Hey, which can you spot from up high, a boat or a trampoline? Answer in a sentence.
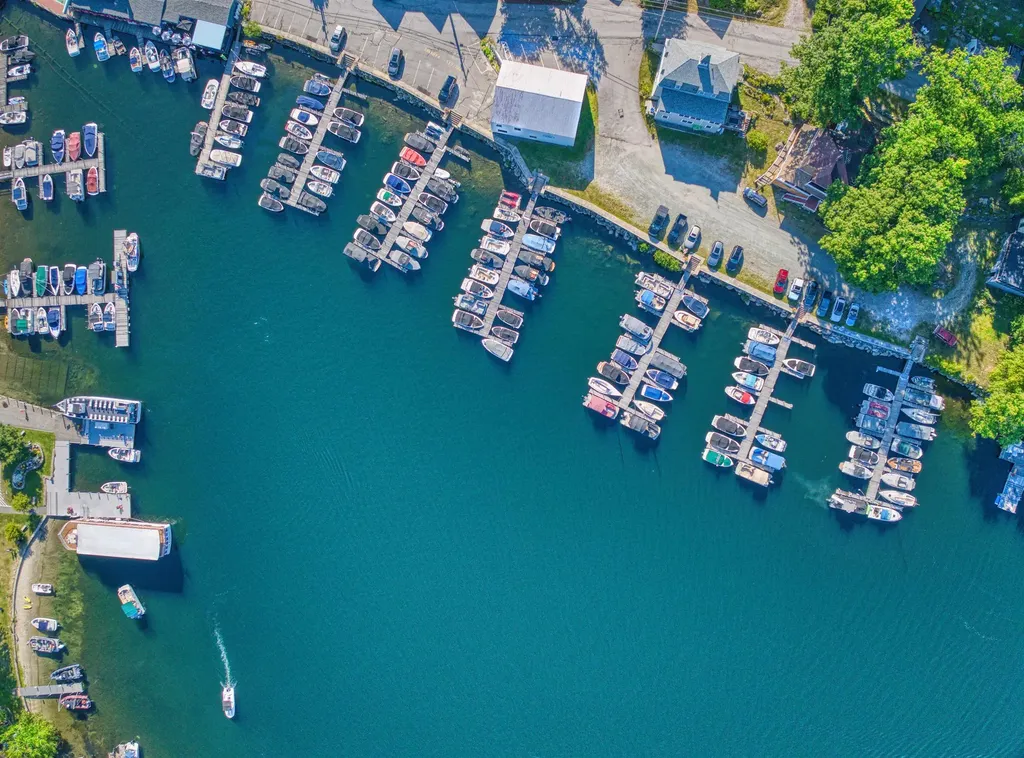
There is a boat in the scene.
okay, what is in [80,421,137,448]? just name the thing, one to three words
pier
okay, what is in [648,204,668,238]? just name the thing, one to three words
vehicle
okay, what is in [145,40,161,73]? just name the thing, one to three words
boat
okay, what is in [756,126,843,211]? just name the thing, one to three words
house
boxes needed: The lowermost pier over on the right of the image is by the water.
[995,436,1024,513]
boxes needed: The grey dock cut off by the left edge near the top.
[0,53,31,116]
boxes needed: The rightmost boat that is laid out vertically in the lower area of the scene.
[222,686,236,720]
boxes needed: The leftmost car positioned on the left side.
[330,24,346,54]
